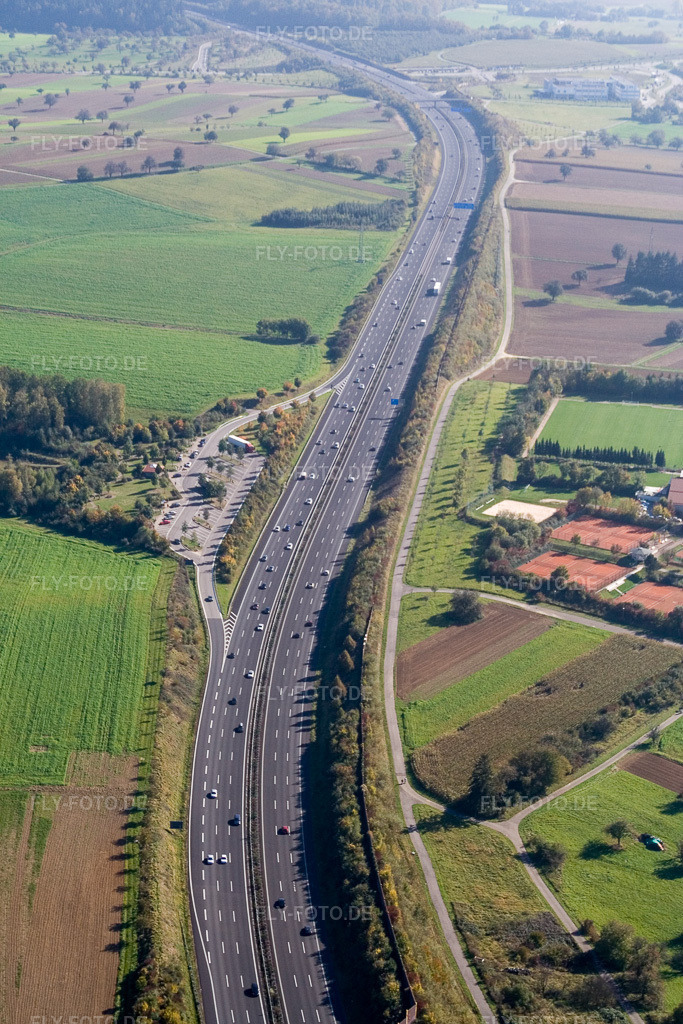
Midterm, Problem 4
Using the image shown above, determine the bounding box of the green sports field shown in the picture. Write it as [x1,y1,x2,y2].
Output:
[530,397,683,463]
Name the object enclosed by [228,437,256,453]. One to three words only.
vehicle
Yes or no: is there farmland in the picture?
Yes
